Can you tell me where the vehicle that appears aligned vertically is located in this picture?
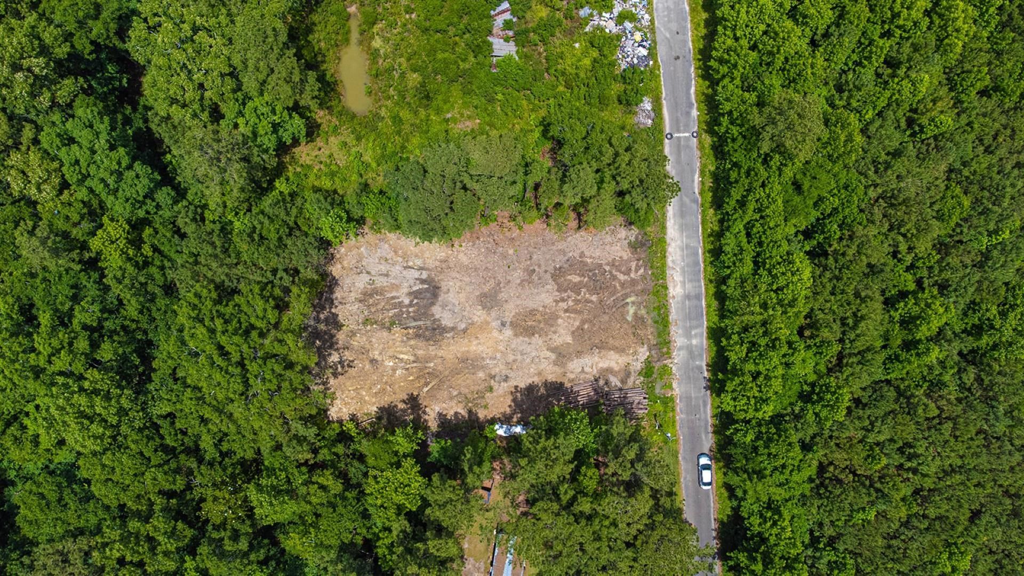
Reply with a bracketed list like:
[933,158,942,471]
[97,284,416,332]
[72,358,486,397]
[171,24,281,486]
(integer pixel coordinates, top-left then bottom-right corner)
[698,455,715,490]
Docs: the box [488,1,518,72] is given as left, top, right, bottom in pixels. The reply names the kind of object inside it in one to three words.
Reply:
shed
